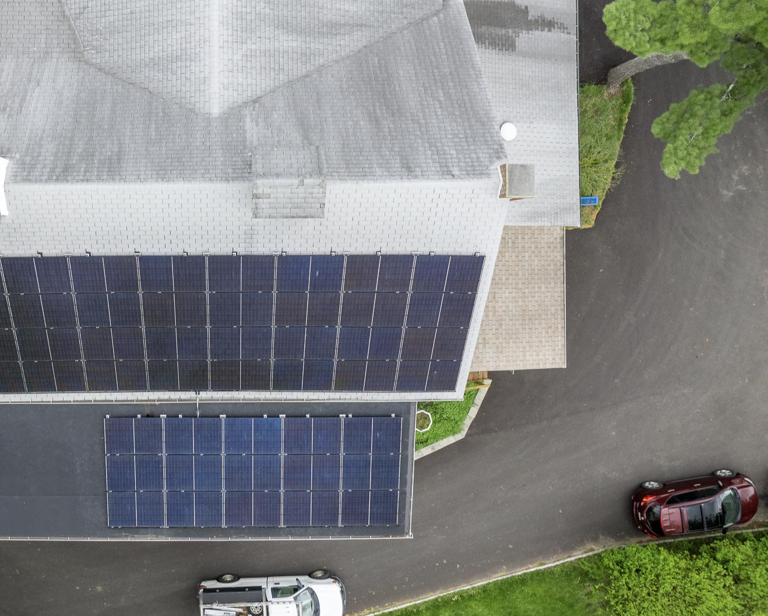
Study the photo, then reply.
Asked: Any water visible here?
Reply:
No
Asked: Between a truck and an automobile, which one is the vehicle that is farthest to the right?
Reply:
automobile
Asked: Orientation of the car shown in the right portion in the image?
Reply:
from side to side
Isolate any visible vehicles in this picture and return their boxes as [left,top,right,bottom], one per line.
[628,469,760,540]
[199,569,348,616]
